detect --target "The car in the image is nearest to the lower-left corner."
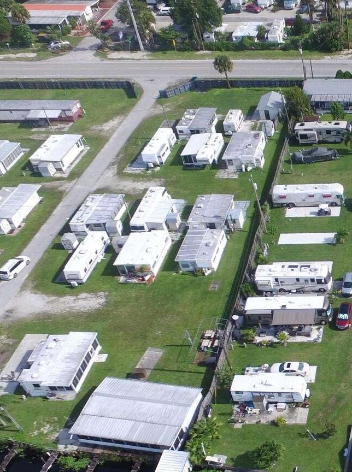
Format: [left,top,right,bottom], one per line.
[0,257,34,281]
